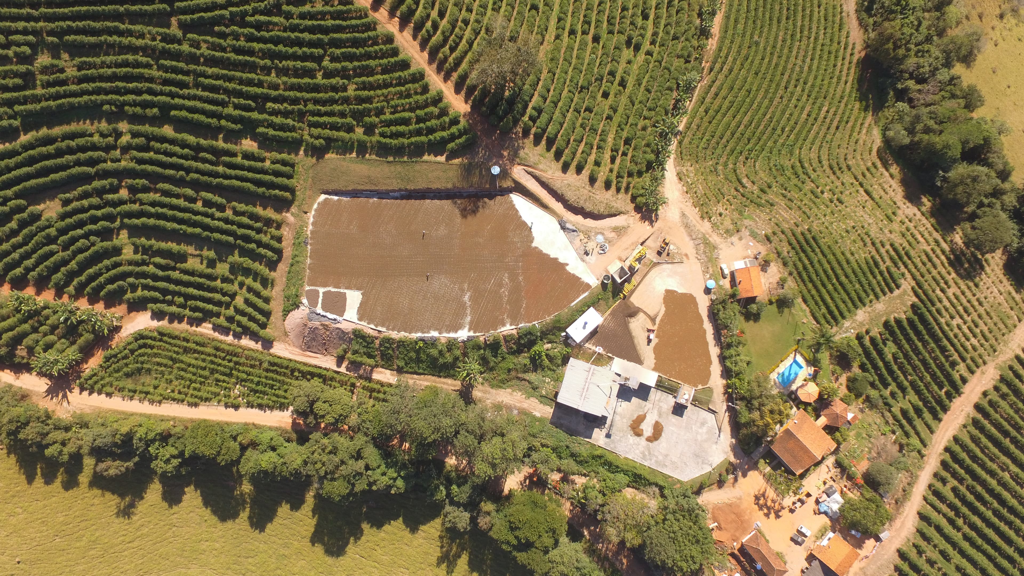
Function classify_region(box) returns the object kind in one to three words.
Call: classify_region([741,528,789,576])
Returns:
house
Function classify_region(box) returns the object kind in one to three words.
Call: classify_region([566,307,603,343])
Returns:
shed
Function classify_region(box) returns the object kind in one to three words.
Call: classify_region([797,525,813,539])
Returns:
vehicle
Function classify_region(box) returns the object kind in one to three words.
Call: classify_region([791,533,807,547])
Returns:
vehicle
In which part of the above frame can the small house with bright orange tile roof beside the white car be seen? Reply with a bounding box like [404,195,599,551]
[732,259,764,299]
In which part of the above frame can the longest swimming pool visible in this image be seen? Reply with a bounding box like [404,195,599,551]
[773,355,807,391]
